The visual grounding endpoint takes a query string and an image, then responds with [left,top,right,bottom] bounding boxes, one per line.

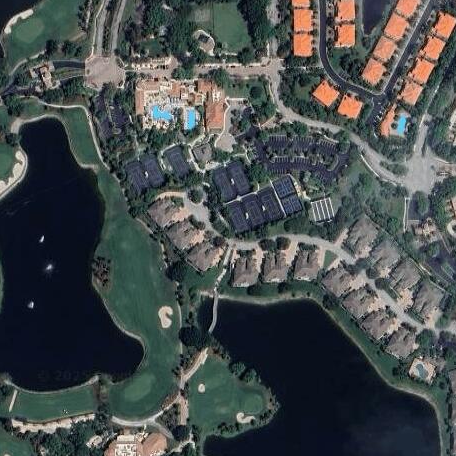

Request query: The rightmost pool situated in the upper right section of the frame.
[393,112,412,137]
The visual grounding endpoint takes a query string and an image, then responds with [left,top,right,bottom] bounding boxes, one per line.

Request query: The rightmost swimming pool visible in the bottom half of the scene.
[409,358,435,383]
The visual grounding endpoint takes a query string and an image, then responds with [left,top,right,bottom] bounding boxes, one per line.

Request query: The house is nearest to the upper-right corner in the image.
[435,11,456,37]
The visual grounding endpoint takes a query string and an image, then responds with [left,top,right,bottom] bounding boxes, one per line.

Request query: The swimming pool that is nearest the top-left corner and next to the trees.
[152,104,174,121]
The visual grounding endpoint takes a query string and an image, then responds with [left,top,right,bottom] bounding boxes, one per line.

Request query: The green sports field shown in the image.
[213,0,251,53]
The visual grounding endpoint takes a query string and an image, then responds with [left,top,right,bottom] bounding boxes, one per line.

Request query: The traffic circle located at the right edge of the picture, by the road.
[395,142,440,194]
